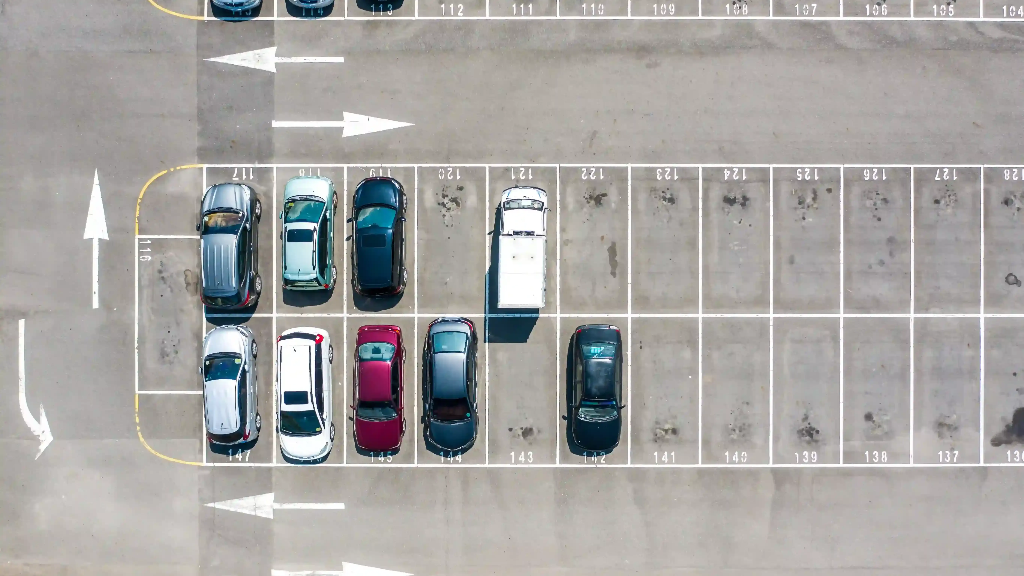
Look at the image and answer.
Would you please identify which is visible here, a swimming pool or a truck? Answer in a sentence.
There is a truck in the scene.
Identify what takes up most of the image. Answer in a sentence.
Most of the picture is covered by paved ground.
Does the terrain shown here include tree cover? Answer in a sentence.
No, there is no tree cover in the image.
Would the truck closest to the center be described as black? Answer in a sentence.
No, the truck closest to the center is white.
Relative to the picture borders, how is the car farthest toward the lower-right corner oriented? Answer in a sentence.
The car farthest toward the lower-right corner has been laid out from top to bottom relative to the frame.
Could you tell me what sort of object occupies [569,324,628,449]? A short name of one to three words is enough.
car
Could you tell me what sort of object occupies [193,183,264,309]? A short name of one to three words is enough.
car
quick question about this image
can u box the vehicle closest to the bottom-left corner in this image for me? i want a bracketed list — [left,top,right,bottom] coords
[196,325,263,444]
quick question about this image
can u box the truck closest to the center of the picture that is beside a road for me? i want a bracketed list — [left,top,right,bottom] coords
[492,186,553,310]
